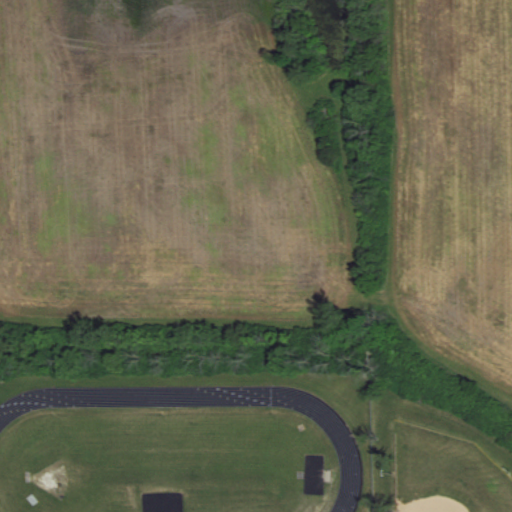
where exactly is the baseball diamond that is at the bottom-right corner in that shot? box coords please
[396,421,512,512]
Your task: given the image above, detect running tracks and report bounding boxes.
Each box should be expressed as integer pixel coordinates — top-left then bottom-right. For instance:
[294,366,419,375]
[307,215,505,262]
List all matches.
[0,386,363,512]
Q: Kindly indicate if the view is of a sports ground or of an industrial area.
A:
sports ground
